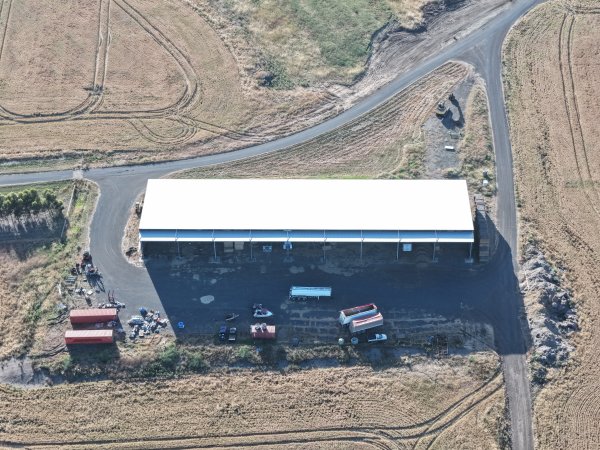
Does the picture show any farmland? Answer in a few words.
Yes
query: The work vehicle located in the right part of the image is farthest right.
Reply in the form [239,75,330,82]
[434,90,456,117]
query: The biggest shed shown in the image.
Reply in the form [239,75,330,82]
[138,179,476,260]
